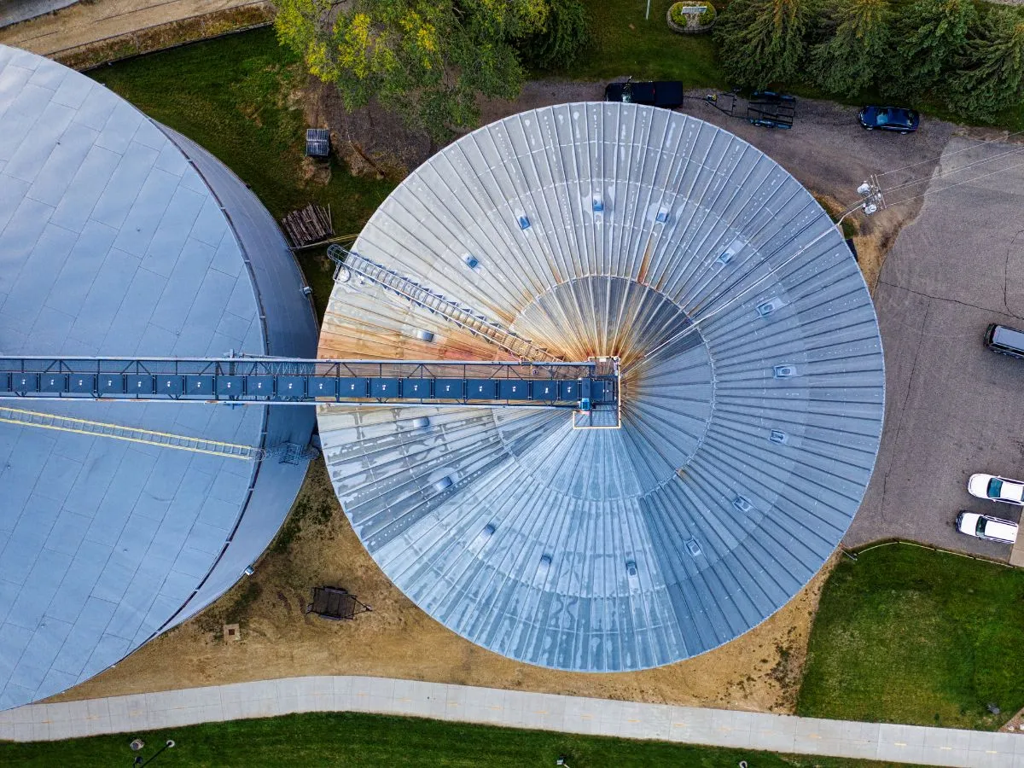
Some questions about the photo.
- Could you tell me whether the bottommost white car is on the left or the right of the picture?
right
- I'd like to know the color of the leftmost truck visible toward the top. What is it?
black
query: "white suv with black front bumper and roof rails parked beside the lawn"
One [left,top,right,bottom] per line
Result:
[956,513,1024,547]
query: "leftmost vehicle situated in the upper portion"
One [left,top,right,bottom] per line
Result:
[607,74,683,109]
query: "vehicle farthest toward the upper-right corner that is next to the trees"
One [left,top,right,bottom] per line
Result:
[861,100,924,133]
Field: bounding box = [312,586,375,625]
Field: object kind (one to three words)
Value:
trailer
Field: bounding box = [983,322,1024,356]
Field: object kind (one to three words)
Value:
car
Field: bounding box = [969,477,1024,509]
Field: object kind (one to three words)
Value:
car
